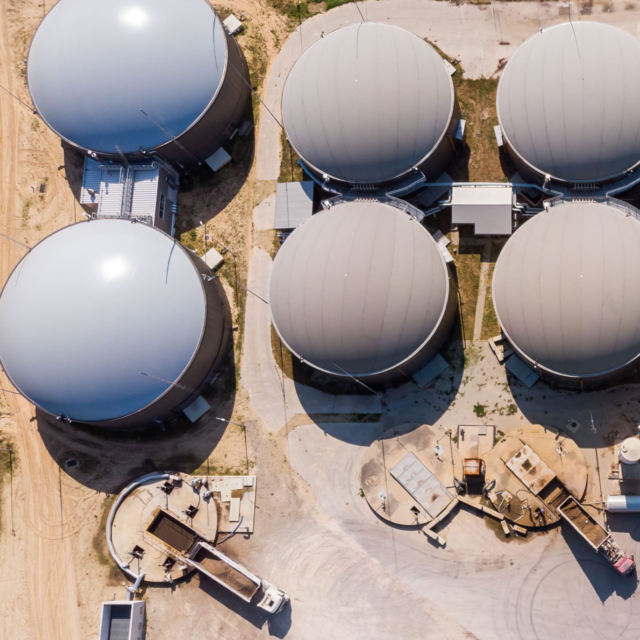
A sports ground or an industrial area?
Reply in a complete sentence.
What you see here is an industrial area.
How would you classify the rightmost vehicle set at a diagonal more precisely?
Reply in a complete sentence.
Looking closely, the rightmost vehicle set at a diagonal is a truck.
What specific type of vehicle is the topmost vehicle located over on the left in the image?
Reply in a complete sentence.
The topmost vehicle located over on the left can be classified as a truck.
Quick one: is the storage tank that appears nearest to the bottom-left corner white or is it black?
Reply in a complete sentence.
In this view, the storage tank that appears nearest to the bottom-left corner is white.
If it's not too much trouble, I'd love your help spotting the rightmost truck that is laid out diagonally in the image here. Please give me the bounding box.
[557,495,637,576]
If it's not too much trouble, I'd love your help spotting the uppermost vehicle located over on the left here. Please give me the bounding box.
[186,542,299,617]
